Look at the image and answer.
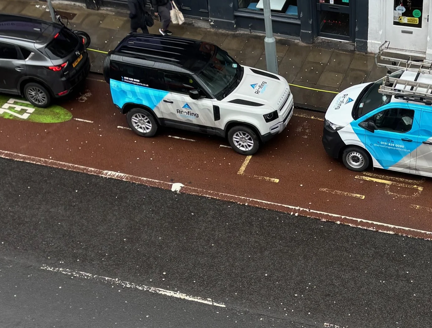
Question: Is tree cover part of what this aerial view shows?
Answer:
No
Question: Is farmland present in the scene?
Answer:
No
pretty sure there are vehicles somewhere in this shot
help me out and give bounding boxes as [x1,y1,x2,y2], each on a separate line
[326,58,432,172]
[102,25,298,154]
[0,11,96,108]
